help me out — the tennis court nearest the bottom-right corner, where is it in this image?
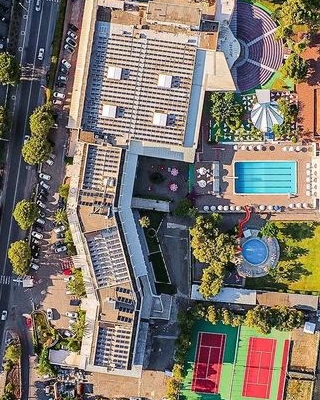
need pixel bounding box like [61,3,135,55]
[242,337,277,399]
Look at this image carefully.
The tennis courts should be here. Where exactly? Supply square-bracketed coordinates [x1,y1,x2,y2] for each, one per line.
[192,332,226,394]
[242,337,277,399]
